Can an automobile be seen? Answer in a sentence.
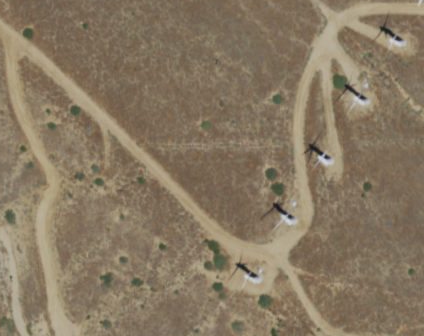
No, I find no automobile anywhere in the image.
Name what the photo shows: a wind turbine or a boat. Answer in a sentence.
The one in the frame is a wind turbine.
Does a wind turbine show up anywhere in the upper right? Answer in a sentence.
Yes, a wind turbine appears in the upper right.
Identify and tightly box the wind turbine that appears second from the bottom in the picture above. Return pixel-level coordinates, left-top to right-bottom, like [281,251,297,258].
[270,208,300,234]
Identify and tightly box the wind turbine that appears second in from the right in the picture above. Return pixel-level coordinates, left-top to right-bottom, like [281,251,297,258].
[345,88,373,116]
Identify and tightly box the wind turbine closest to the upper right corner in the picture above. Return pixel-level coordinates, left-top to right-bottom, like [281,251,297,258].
[382,30,408,58]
